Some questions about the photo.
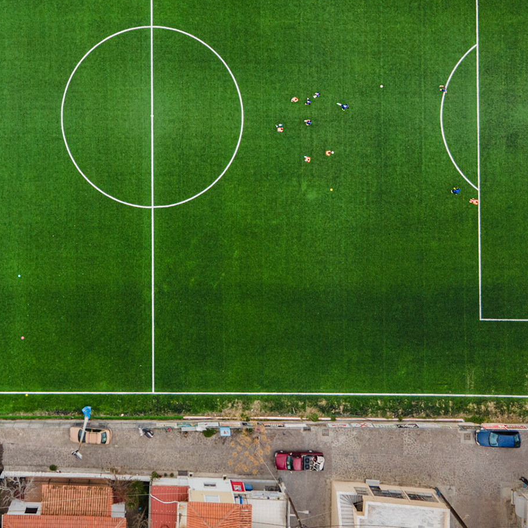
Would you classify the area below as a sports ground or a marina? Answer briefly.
sports ground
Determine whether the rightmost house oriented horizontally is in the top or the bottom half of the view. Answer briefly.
bottom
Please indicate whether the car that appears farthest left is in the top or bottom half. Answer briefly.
bottom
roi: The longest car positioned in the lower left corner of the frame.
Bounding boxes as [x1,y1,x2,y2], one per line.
[68,425,113,447]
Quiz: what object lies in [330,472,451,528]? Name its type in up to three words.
house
